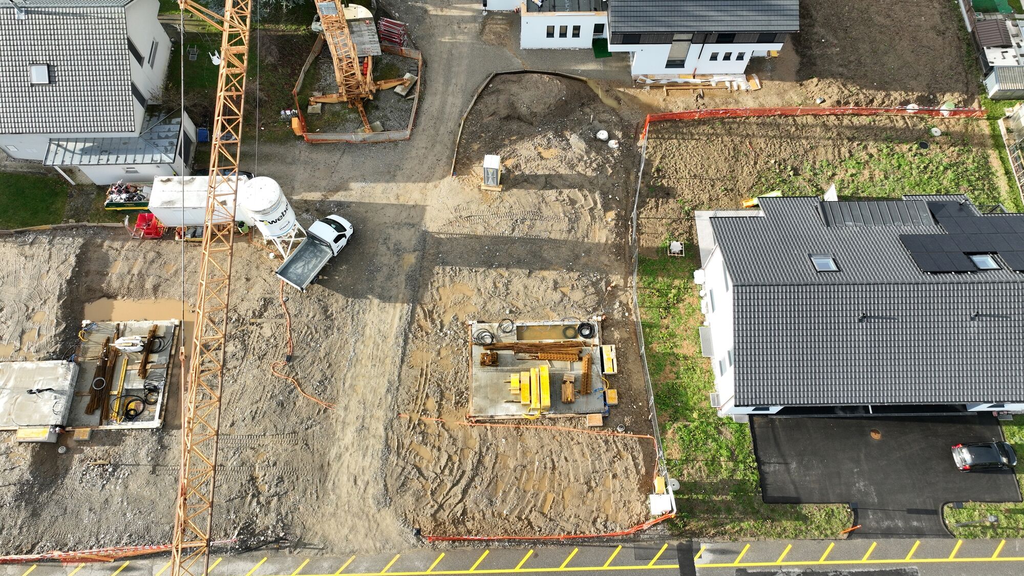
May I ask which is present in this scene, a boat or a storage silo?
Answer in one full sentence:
Looking from above, you can make out a storage silo.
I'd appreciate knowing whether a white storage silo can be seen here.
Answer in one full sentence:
Yes, the picture does show a white storage silo.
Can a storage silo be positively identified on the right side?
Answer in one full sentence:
No, I can find no storage silo on the right side.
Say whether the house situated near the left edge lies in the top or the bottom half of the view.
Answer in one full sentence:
It is in the top half that the house situated near the left edge appears.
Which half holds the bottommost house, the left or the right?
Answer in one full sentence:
The bottommost house is on the right side of the image.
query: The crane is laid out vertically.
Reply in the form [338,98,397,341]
[169,0,409,576]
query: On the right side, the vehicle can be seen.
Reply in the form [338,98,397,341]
[947,437,1019,474]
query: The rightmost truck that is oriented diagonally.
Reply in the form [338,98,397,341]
[277,215,353,292]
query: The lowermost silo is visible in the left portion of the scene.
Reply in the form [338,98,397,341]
[235,178,308,261]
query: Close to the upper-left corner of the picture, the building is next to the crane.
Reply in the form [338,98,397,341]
[0,0,194,183]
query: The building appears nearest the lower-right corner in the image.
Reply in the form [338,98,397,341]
[695,194,1024,420]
